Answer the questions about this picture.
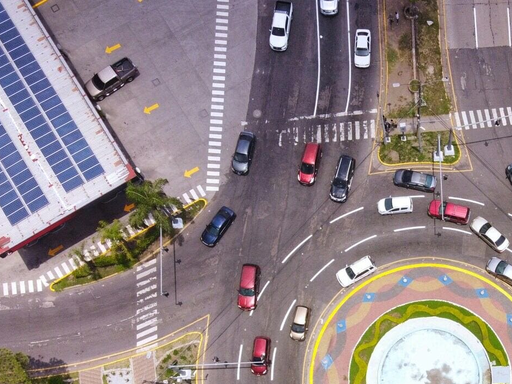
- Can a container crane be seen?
No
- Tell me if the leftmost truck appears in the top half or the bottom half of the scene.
top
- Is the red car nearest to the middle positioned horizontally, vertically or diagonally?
vertically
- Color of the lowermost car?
red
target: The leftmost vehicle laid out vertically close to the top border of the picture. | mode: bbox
[269,0,293,53]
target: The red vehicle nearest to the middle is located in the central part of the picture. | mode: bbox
[298,142,322,185]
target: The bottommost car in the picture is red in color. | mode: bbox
[249,336,272,376]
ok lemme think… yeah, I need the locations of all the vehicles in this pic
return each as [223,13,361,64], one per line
[378,194,413,216]
[469,215,512,254]
[352,28,372,69]
[84,55,143,99]
[249,336,272,376]
[330,154,356,202]
[485,256,512,286]
[230,131,256,175]
[394,167,437,193]
[336,255,377,286]
[319,0,339,16]
[288,305,312,342]
[269,0,293,53]
[298,142,322,185]
[198,204,239,247]
[235,263,262,311]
